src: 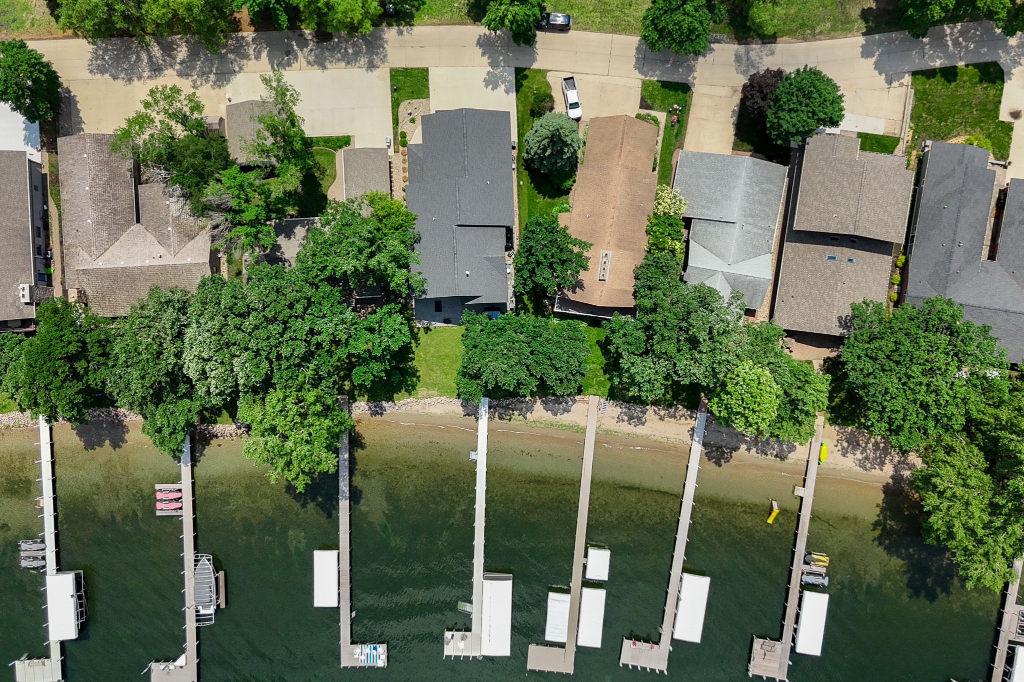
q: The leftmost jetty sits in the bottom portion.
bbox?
[11,421,65,682]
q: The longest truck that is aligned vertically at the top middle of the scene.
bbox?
[560,75,584,122]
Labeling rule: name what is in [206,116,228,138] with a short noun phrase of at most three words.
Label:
shed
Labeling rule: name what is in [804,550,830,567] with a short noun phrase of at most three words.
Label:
boat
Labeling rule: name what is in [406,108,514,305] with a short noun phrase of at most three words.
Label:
house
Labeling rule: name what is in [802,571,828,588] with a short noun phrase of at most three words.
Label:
boat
